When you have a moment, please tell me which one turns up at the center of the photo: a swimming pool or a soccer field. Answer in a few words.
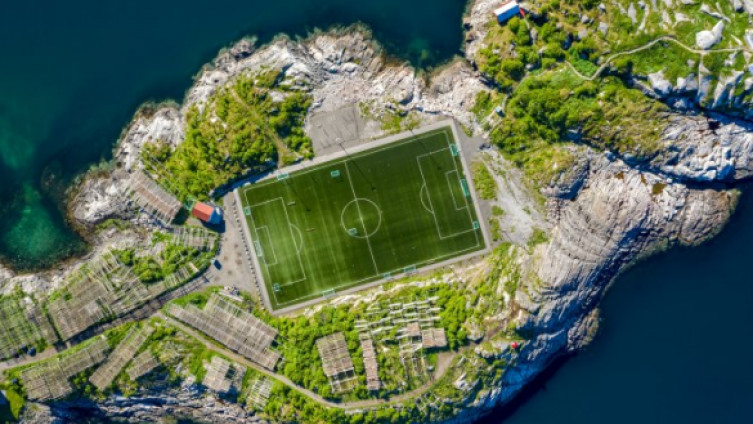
soccer field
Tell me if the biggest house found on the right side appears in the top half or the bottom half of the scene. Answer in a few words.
top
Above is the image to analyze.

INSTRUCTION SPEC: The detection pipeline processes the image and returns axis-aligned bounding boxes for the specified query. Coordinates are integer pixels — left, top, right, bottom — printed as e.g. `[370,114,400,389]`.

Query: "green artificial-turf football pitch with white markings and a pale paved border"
[235,119,489,316]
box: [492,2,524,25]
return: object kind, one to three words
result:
house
